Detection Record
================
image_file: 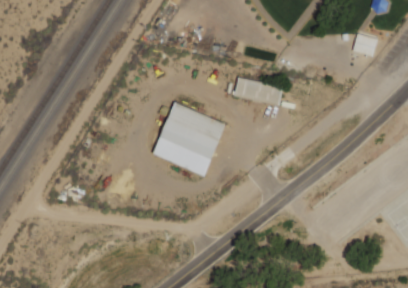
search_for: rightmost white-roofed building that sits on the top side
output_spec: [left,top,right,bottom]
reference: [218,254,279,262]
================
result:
[355,34,378,56]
